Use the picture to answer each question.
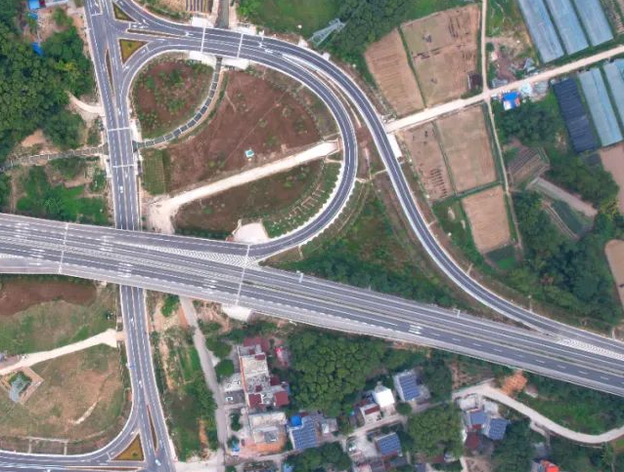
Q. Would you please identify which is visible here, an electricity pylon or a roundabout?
electricity pylon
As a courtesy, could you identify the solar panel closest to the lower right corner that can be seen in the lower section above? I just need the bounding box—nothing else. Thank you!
[490,419,506,438]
